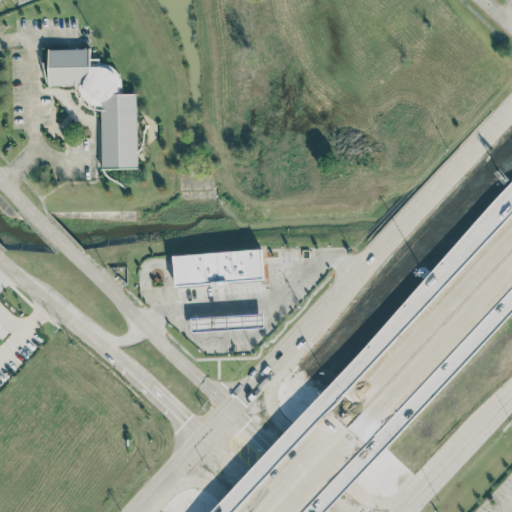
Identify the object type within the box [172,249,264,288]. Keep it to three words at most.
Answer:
building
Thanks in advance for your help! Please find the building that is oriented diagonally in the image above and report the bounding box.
[46,48,138,169]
